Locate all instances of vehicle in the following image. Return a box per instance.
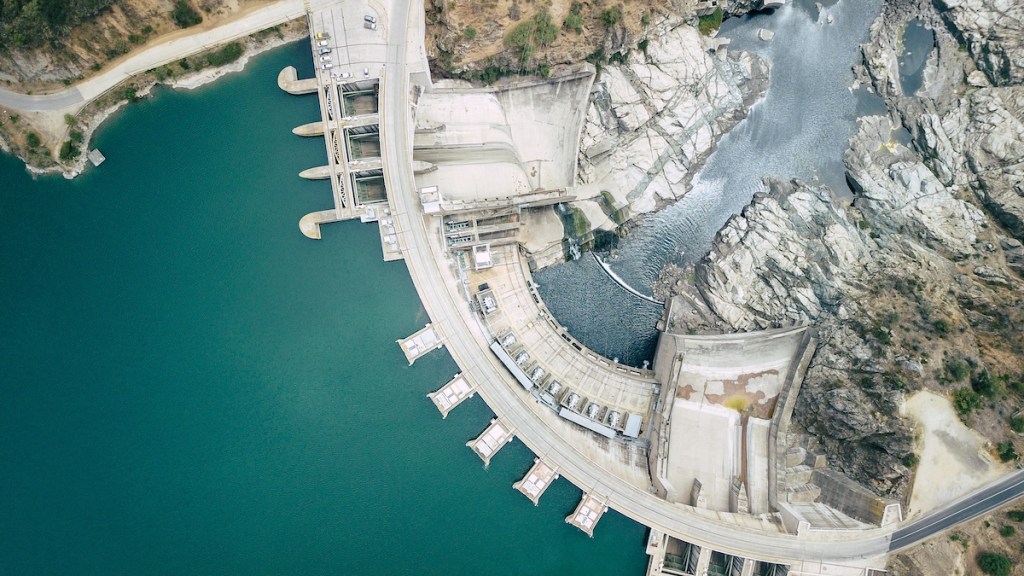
[340,71,352,77]
[364,22,377,29]
[315,32,332,39]
[319,48,330,54]
[320,55,331,61]
[364,15,375,22]
[317,40,327,46]
[321,63,332,69]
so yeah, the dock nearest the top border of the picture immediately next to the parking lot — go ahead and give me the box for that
[279,66,320,96]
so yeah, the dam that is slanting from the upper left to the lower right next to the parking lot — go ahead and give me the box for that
[378,0,890,566]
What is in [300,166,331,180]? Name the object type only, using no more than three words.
pier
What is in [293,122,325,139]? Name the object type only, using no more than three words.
pier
